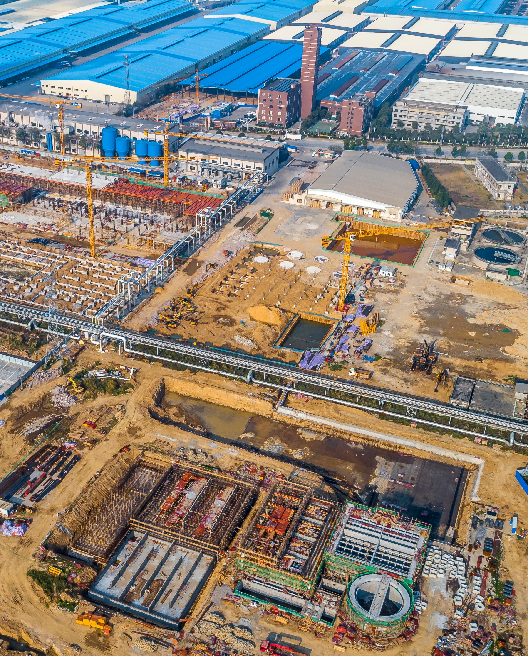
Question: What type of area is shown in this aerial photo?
industrial area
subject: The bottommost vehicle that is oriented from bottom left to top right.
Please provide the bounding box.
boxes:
[433,370,447,391]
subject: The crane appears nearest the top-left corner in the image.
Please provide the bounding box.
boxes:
[0,93,81,168]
